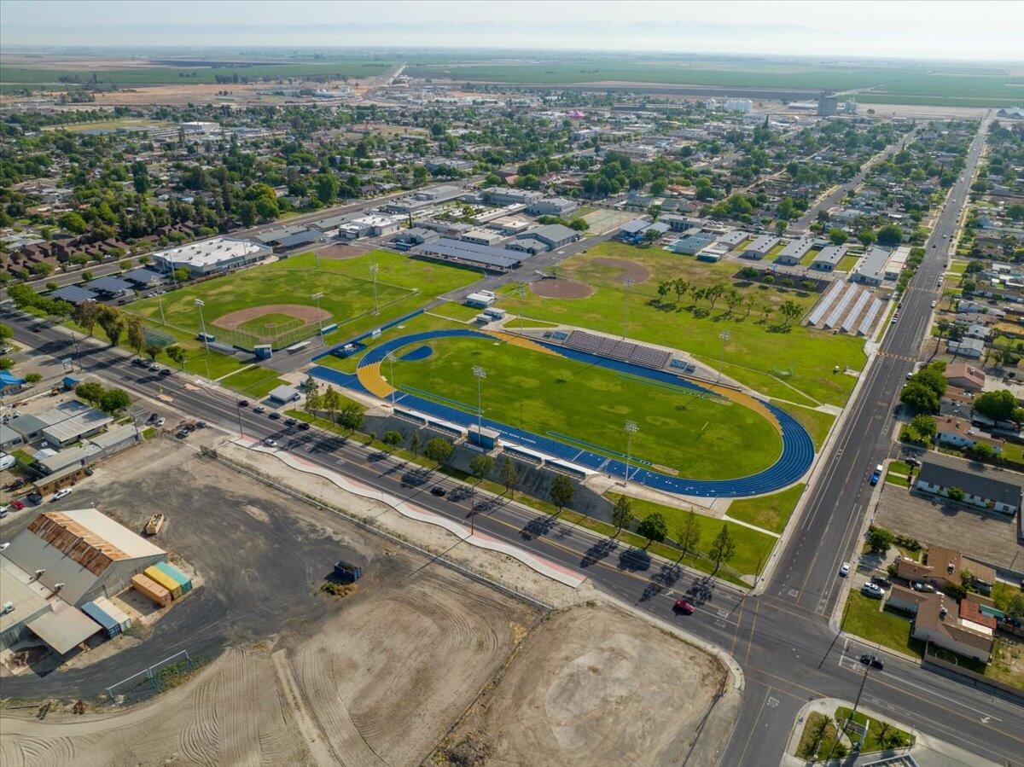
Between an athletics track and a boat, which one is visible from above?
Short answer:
athletics track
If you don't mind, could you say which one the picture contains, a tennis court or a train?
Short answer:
tennis court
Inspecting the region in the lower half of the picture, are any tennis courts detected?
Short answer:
No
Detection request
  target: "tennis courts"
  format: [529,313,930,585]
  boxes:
[582,209,642,233]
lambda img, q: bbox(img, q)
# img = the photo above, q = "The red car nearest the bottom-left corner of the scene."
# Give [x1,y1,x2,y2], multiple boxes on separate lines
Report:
[11,498,23,511]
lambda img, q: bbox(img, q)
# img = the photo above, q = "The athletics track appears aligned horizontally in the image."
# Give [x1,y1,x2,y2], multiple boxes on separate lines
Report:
[359,329,810,497]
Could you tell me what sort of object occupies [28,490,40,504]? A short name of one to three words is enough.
vehicle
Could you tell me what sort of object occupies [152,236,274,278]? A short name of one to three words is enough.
building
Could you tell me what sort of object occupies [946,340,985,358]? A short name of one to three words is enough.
house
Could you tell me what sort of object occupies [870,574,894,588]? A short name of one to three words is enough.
car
